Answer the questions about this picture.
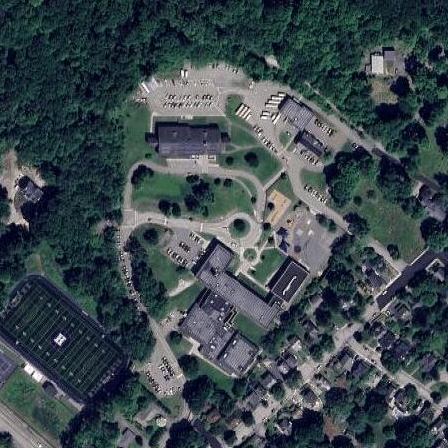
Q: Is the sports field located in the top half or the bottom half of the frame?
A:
bottom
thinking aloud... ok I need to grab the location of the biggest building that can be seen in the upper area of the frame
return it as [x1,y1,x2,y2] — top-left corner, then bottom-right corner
[145,126,230,159]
